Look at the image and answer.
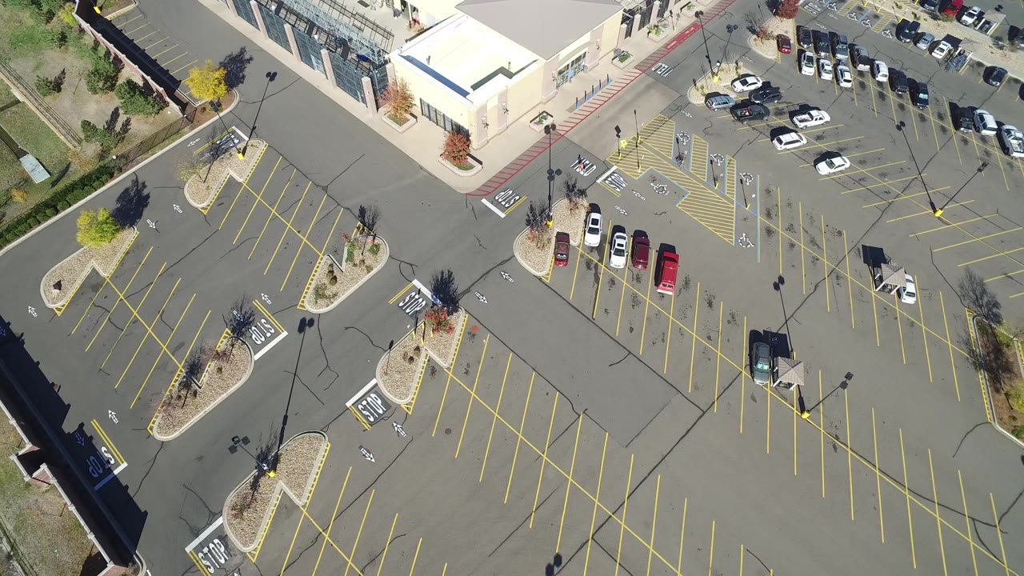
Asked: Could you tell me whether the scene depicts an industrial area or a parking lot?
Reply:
parking lot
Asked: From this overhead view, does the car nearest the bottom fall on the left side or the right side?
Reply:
right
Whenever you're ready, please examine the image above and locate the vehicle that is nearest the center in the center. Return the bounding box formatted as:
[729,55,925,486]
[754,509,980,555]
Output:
[552,232,571,268]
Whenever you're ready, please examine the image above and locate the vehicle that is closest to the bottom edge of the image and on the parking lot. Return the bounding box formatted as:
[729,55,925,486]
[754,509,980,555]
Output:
[750,340,774,387]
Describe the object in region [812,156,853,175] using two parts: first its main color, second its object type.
white car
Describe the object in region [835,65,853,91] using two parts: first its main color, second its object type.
white car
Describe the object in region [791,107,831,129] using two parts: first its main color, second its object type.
white truck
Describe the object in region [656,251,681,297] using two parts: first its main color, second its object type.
red truck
